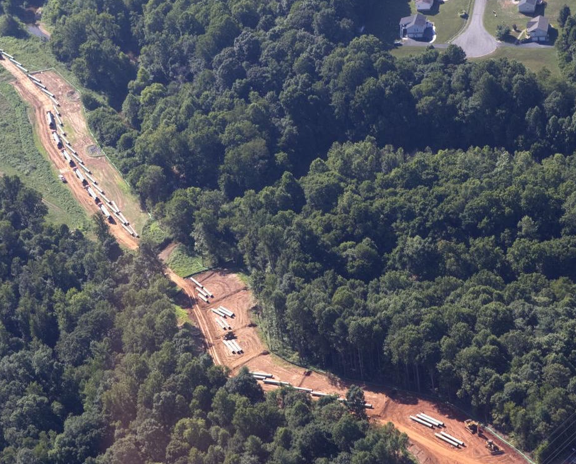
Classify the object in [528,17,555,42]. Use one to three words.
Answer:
house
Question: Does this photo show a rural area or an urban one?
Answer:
rural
